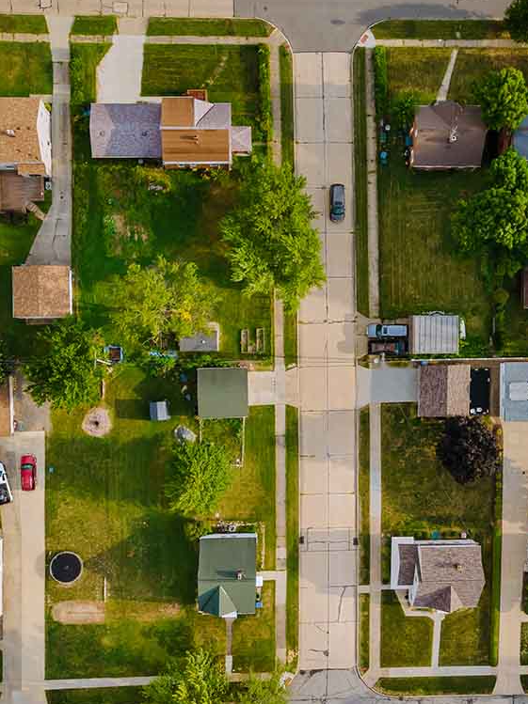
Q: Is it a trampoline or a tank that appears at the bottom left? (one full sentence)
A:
Visible at the bottom left is a trampoline.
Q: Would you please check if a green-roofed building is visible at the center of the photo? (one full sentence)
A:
Yes, looking at the center of the photo, one can make out a green-roofed building.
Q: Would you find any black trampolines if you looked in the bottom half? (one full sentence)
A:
Yes, in the bottom half there is a black trampoline.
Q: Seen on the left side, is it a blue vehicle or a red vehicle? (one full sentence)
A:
Looking on the left side, you will find a red vehicle.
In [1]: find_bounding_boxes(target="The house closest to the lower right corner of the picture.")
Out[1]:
[389,533,484,618]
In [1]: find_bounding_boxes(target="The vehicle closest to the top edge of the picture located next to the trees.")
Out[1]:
[328,184,346,223]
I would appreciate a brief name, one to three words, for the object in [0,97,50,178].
house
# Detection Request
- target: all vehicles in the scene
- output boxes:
[19,453,37,490]
[367,321,407,338]
[368,339,407,356]
[328,184,346,223]
[0,462,13,505]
